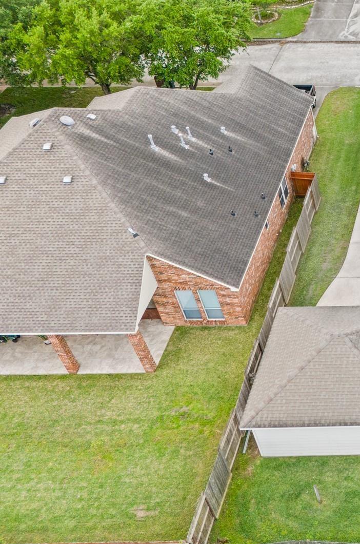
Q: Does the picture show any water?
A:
No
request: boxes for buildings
[237,306,360,466]
[0,66,317,374]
